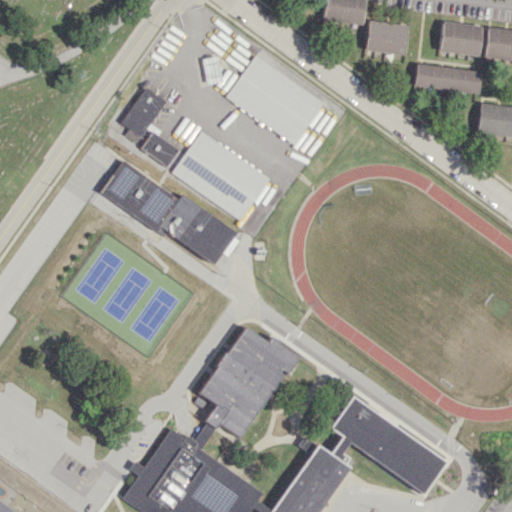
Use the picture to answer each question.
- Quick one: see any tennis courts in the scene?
Yes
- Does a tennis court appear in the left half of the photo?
Yes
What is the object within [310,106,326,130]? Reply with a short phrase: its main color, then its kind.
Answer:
white vehicle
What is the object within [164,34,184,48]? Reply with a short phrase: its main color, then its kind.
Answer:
white vehicle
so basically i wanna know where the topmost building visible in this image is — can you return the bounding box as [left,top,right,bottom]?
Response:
[324,0,369,28]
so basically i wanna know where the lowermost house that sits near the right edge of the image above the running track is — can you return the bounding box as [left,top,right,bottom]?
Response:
[478,102,512,138]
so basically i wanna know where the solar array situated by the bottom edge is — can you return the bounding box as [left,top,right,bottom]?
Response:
[193,474,238,512]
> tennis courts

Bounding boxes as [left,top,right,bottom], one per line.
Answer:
[121,274,192,356]
[62,234,136,317]
[94,256,164,336]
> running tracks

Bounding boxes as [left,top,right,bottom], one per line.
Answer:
[288,164,512,422]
